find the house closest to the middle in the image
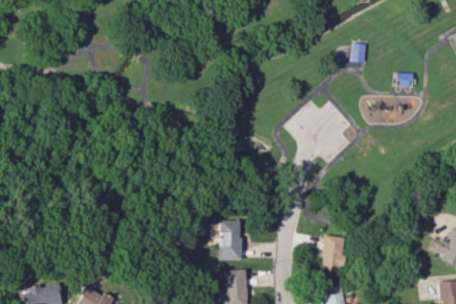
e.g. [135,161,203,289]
[218,220,242,261]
